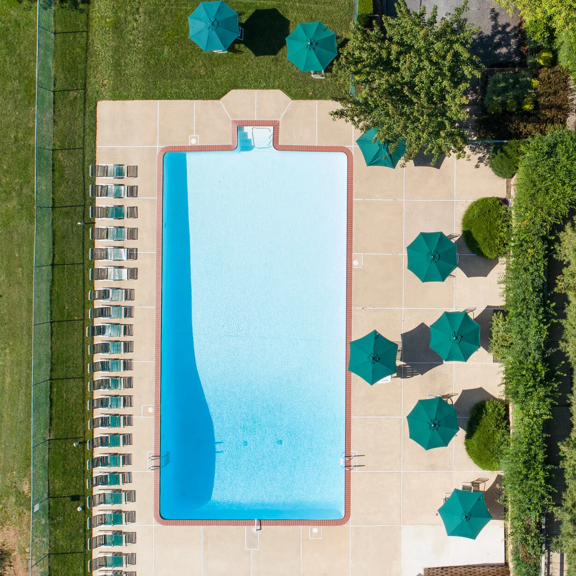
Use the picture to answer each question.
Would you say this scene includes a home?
No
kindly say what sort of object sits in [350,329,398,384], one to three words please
umbrella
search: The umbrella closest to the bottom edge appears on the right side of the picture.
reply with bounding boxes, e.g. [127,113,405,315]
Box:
[437,486,492,539]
